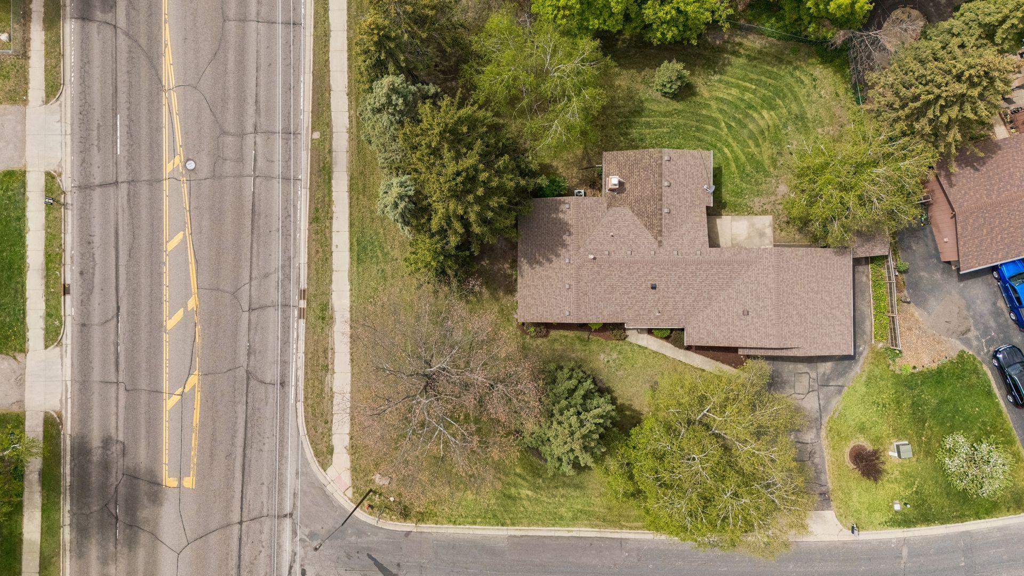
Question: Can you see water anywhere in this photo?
No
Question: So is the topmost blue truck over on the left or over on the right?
right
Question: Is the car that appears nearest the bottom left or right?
right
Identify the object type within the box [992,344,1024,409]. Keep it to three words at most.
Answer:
car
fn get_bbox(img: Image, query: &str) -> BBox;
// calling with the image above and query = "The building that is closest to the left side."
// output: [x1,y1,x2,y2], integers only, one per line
[518,147,852,356]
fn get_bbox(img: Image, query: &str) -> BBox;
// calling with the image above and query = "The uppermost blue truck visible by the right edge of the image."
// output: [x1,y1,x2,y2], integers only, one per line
[990,260,1024,333]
